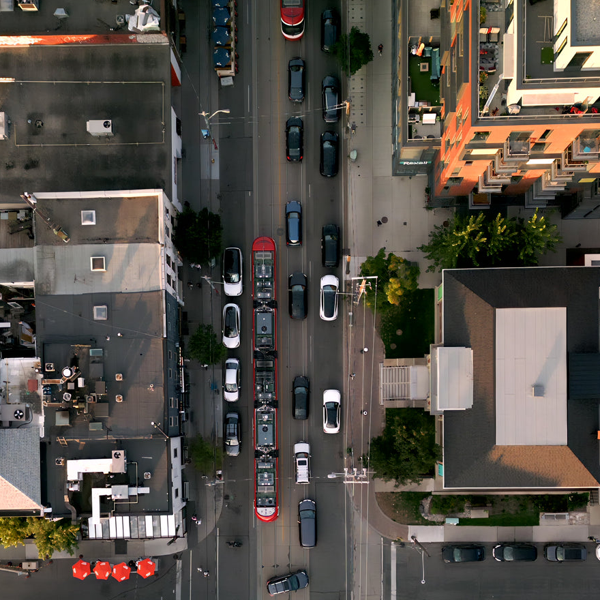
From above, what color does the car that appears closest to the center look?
black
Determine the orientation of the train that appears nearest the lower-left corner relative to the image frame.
vertically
